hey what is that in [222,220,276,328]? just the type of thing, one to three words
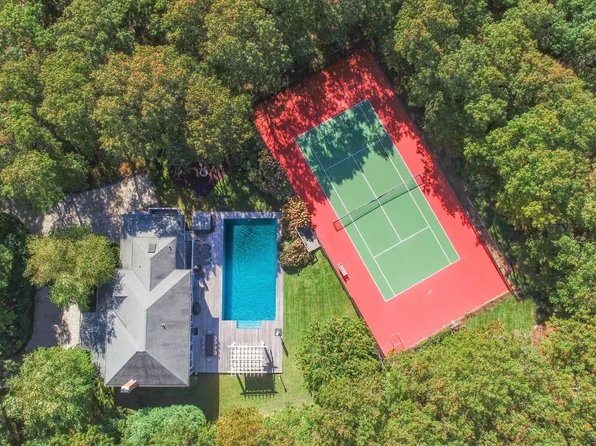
swimming pool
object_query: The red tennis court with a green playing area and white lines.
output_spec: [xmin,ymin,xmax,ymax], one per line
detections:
[249,44,509,360]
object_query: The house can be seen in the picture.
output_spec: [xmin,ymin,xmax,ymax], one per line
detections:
[81,206,198,392]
